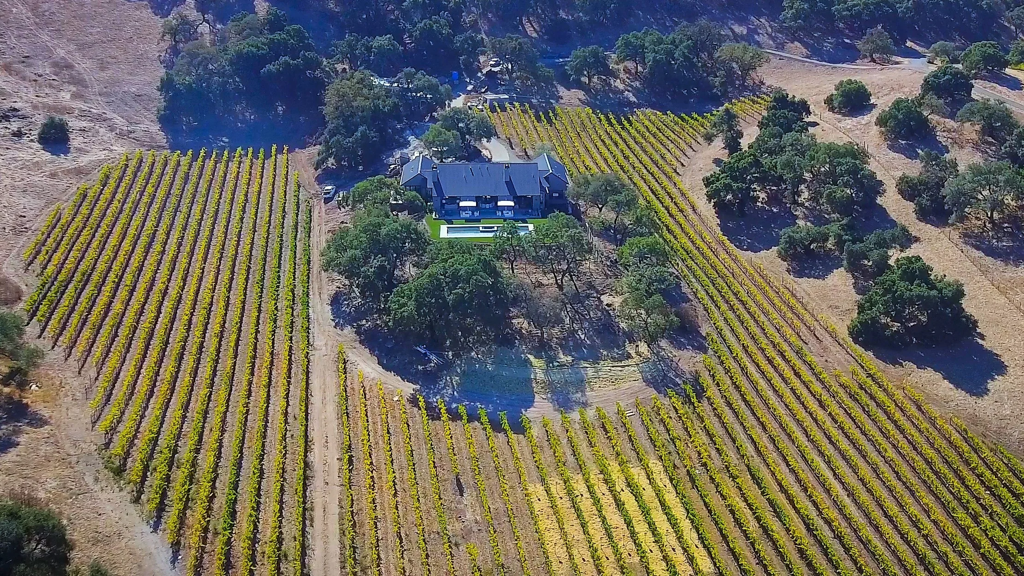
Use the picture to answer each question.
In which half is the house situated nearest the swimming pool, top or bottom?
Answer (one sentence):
The house situated nearest the swimming pool is in the top half of the image.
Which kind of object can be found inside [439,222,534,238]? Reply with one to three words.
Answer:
swimming pool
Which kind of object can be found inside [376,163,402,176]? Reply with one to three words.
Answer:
vehicle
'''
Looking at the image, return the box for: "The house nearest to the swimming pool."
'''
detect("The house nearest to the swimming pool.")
[397,156,572,217]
